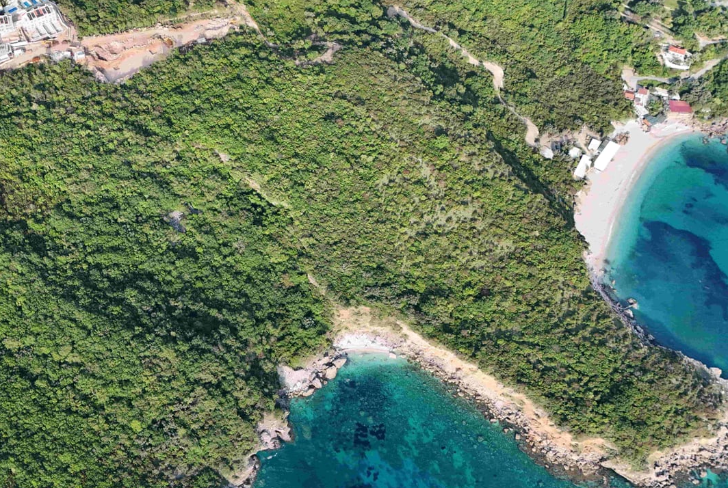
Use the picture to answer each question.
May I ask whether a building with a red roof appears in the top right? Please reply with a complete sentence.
Yes, a building with a red roof is visible in the top right.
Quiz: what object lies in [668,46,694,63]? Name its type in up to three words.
house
